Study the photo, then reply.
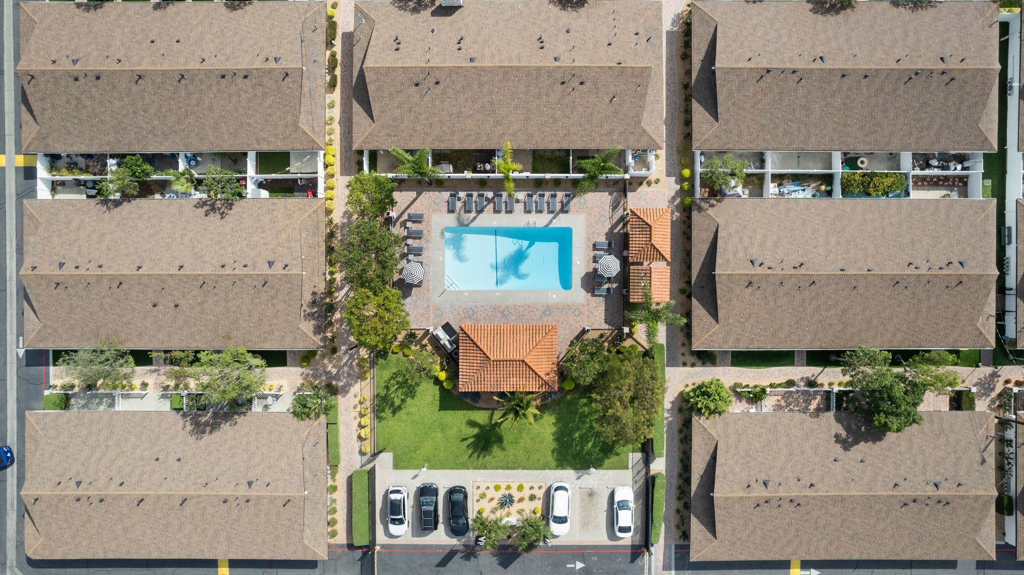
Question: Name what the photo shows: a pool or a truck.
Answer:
pool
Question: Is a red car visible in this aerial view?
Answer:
No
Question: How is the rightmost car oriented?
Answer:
up and down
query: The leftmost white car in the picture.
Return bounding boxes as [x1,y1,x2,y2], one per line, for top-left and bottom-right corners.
[385,484,409,535]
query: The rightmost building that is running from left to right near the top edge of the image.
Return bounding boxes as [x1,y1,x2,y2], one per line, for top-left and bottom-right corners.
[692,0,1011,154]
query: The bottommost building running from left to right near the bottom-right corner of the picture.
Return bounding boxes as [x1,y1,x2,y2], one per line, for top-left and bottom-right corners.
[690,410,1008,562]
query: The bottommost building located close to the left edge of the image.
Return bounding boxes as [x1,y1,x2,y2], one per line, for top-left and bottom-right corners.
[19,410,328,561]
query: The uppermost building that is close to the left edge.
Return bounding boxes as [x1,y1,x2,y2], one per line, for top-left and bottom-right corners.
[14,0,326,154]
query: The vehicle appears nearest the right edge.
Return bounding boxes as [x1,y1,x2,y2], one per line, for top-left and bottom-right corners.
[612,484,636,537]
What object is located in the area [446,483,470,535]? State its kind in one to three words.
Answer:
car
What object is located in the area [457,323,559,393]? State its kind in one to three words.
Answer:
gazebo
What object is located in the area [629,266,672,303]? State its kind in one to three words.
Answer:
building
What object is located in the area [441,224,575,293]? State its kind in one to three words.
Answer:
swimming pool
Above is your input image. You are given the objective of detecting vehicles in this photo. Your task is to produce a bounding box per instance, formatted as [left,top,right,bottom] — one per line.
[612,484,636,537]
[446,483,470,535]
[385,484,409,535]
[548,481,573,535]
[0,445,18,467]
[417,480,440,535]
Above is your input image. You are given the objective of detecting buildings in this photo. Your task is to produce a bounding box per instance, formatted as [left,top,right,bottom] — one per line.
[17,197,326,351]
[629,266,672,303]
[692,0,1011,154]
[1003,197,1024,350]
[14,0,326,154]
[19,410,328,561]
[690,410,1008,562]
[628,207,672,263]
[352,0,663,151]
[691,197,1006,351]
[1003,410,1024,562]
